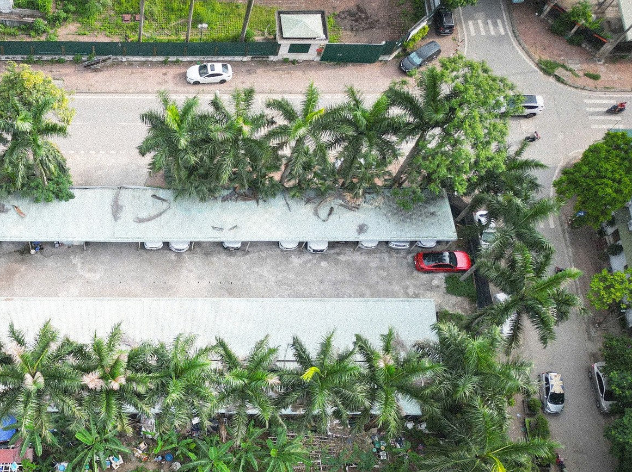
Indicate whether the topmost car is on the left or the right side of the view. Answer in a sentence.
The topmost car sits on the right side.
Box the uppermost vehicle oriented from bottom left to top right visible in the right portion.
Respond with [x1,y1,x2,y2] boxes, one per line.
[399,34,444,74]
